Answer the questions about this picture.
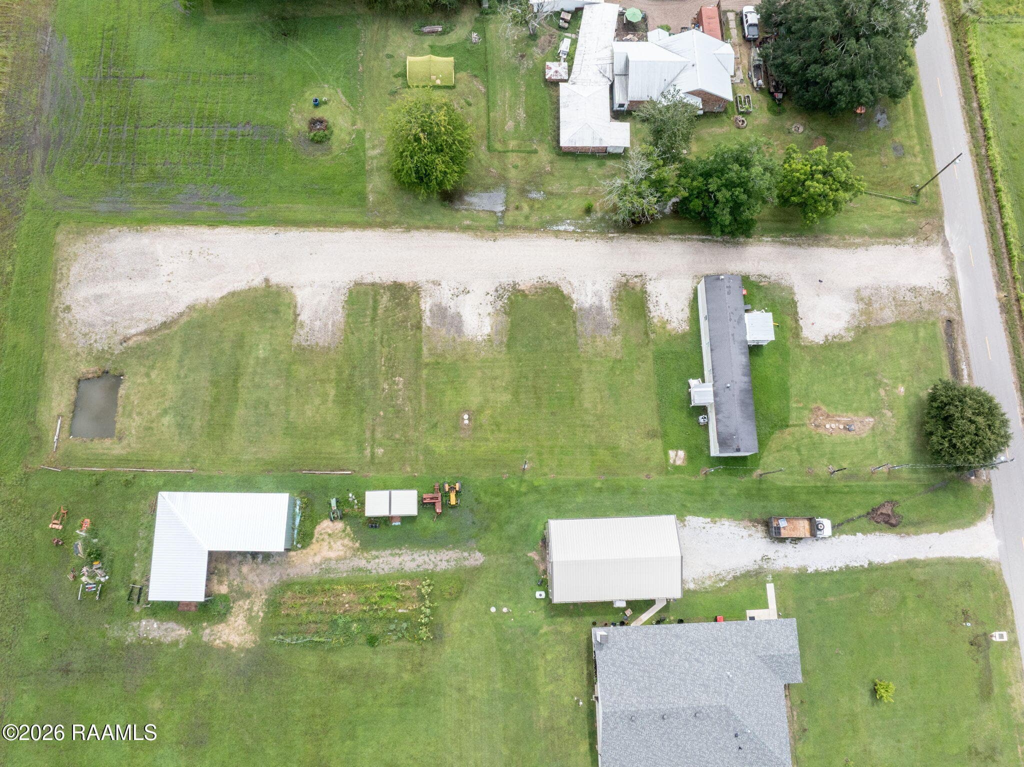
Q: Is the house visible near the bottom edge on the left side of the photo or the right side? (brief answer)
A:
right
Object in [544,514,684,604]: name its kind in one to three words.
barn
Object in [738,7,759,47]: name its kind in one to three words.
truck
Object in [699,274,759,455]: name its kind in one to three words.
house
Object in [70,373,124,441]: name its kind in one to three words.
pond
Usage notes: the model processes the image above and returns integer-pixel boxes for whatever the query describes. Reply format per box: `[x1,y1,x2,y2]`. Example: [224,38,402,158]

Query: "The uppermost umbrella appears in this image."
[624,7,642,28]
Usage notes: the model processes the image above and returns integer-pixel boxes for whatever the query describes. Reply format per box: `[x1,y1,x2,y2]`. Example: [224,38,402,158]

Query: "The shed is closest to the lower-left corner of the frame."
[149,490,291,601]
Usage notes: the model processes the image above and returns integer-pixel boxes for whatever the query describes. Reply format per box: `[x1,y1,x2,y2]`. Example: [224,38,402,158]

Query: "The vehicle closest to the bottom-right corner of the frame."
[770,515,841,538]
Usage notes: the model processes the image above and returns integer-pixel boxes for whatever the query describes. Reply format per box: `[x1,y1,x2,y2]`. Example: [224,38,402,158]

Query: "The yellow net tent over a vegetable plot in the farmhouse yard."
[407,55,456,95]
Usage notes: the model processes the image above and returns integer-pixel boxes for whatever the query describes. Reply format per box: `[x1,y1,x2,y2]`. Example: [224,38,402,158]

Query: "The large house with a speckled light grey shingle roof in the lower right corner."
[591,618,804,767]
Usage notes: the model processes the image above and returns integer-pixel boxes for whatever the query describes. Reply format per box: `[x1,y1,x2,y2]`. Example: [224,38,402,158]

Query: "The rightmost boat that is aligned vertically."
[748,46,763,84]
